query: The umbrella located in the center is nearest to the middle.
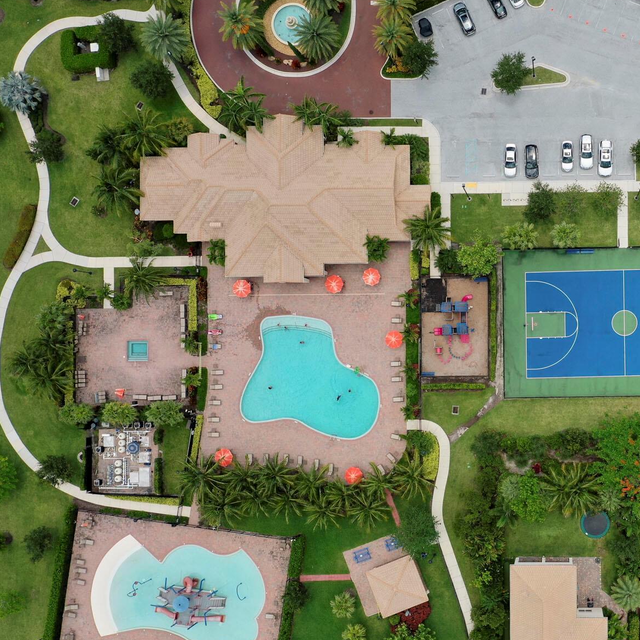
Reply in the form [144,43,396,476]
[326,275,344,293]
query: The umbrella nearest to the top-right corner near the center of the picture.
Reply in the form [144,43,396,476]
[363,268,381,286]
